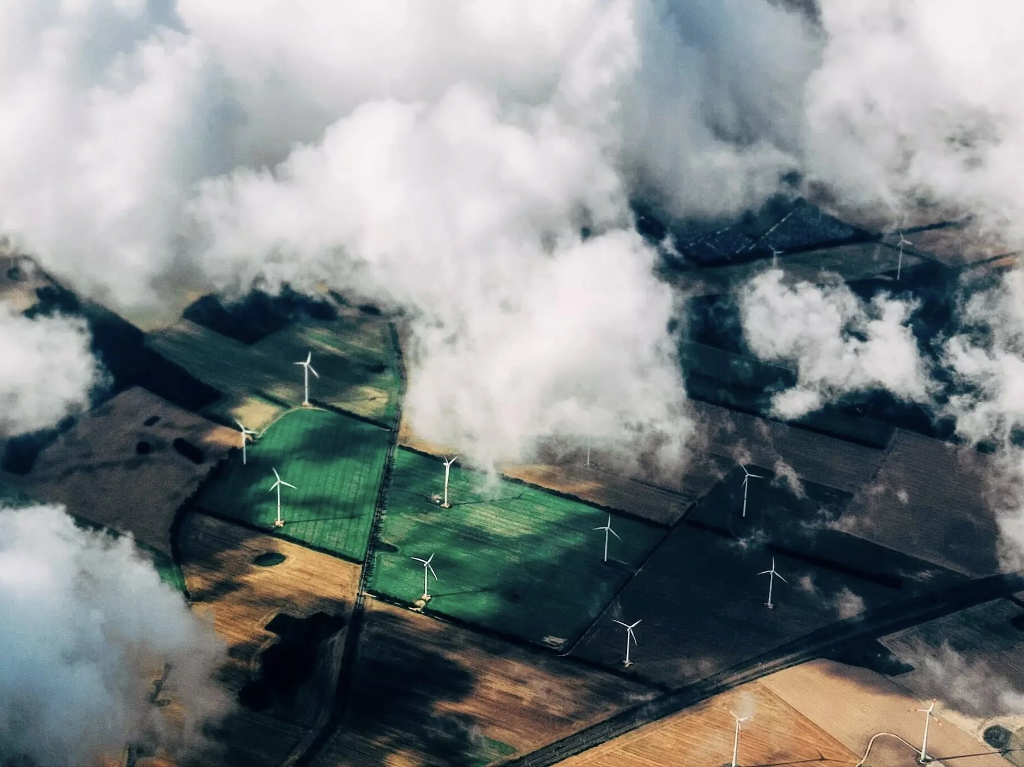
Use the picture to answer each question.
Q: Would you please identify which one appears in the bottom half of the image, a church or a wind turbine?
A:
wind turbine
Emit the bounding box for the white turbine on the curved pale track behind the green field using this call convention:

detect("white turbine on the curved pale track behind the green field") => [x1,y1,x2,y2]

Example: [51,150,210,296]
[295,351,317,402]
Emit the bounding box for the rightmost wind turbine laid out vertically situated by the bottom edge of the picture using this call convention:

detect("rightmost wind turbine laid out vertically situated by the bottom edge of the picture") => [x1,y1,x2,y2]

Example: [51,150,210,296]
[914,695,944,762]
